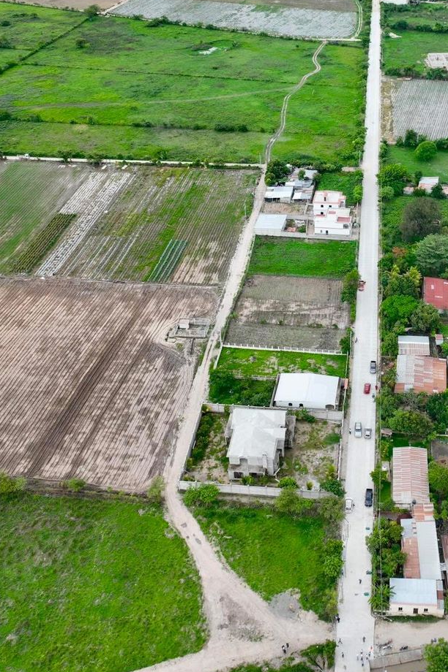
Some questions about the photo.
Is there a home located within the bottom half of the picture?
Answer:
Yes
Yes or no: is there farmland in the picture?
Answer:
Yes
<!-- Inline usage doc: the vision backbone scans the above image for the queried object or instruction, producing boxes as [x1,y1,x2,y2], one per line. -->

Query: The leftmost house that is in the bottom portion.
[225,411,305,481]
